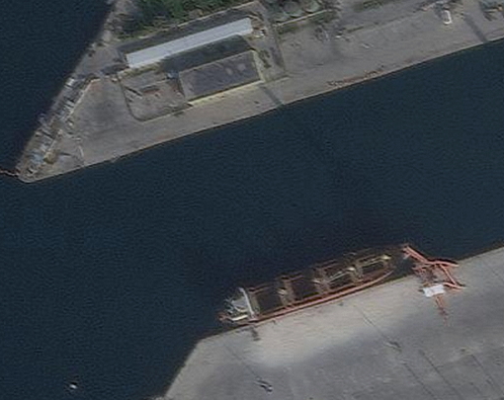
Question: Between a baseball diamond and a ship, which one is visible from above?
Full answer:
The image shows a ship.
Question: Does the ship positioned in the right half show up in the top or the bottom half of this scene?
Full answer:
It is in the bottom half that the ship positioned in the right half appears.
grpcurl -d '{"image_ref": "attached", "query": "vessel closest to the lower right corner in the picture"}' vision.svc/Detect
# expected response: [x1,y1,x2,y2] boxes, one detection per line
[218,250,399,325]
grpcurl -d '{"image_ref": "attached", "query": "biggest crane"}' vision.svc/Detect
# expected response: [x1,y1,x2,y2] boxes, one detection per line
[400,243,468,321]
